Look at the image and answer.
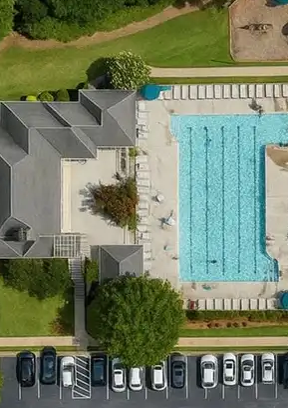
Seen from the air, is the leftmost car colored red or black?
black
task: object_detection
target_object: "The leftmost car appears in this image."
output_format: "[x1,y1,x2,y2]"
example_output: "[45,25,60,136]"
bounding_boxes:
[16,351,37,389]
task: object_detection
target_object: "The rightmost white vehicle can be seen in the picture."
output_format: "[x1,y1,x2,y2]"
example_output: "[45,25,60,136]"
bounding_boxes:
[260,353,276,385]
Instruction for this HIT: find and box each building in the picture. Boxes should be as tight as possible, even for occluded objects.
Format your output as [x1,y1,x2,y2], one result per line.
[98,245,146,293]
[0,89,137,258]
